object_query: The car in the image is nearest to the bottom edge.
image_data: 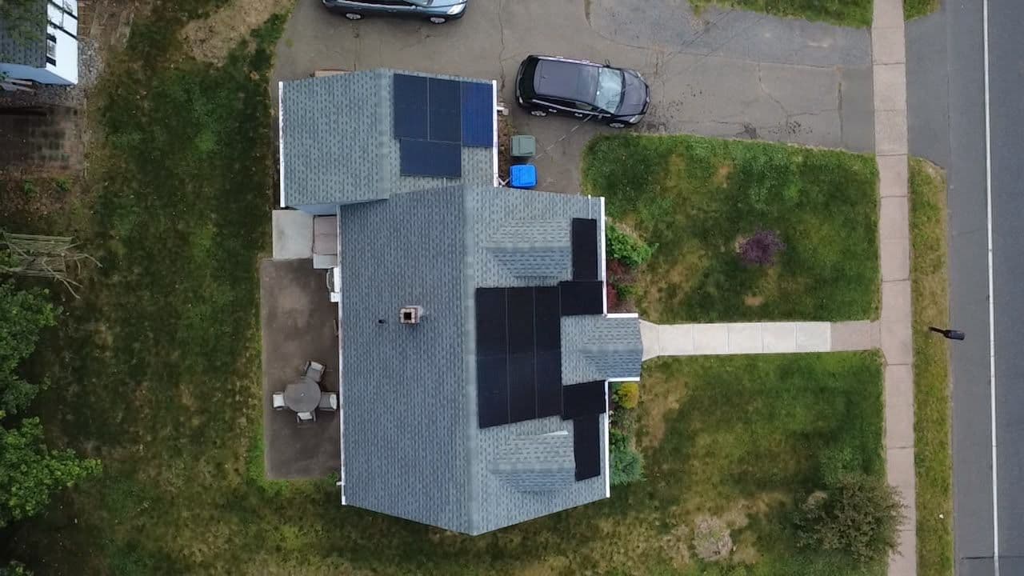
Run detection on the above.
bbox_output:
[515,57,650,129]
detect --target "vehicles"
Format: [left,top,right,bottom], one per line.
[320,0,466,26]
[515,57,650,129]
